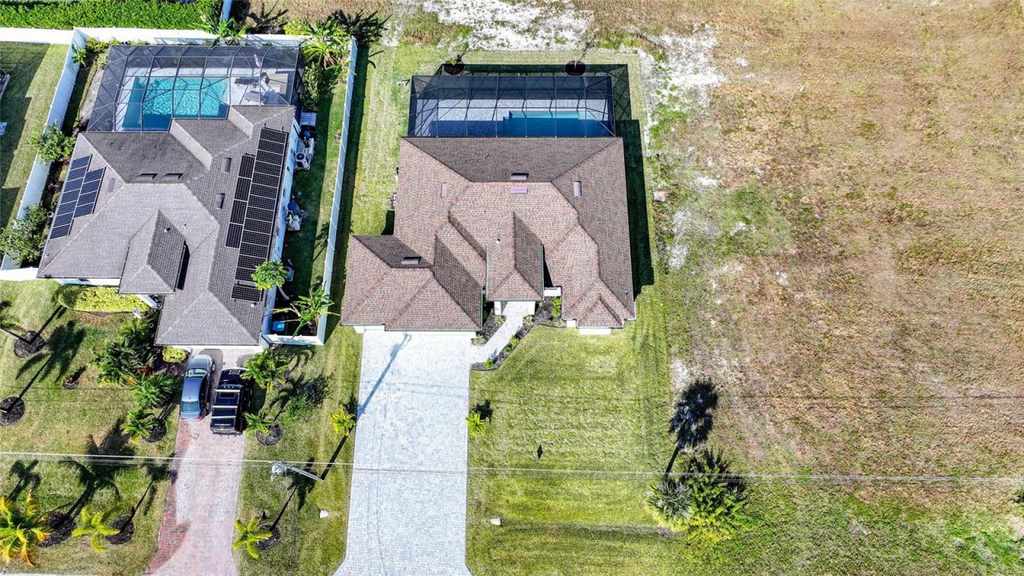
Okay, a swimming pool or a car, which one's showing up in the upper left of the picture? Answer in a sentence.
You can see a swimming pool in the upper left of the picture.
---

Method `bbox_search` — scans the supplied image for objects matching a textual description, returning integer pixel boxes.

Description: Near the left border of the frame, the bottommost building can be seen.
[35,105,299,354]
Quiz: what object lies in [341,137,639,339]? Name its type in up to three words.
house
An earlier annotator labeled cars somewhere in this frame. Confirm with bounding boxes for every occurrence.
[211,367,257,439]
[178,353,216,422]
